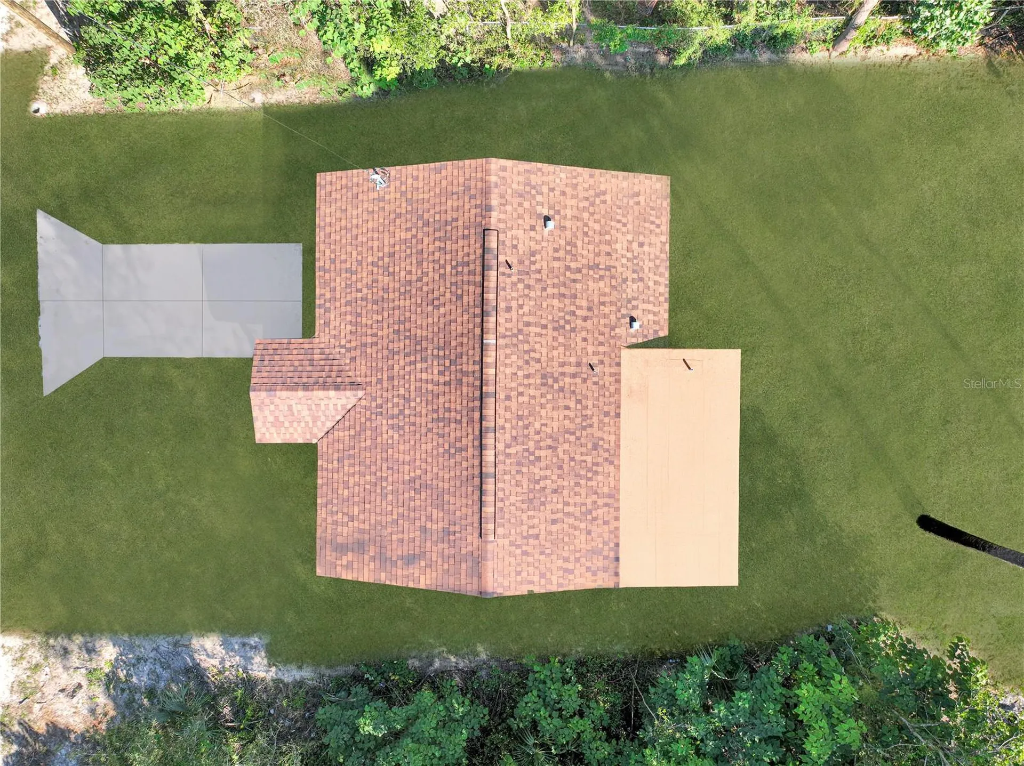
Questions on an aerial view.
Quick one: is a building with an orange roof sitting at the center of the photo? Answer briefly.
No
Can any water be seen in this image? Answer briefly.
No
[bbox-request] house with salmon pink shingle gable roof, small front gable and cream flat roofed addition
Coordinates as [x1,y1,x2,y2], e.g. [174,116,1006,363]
[250,158,742,598]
